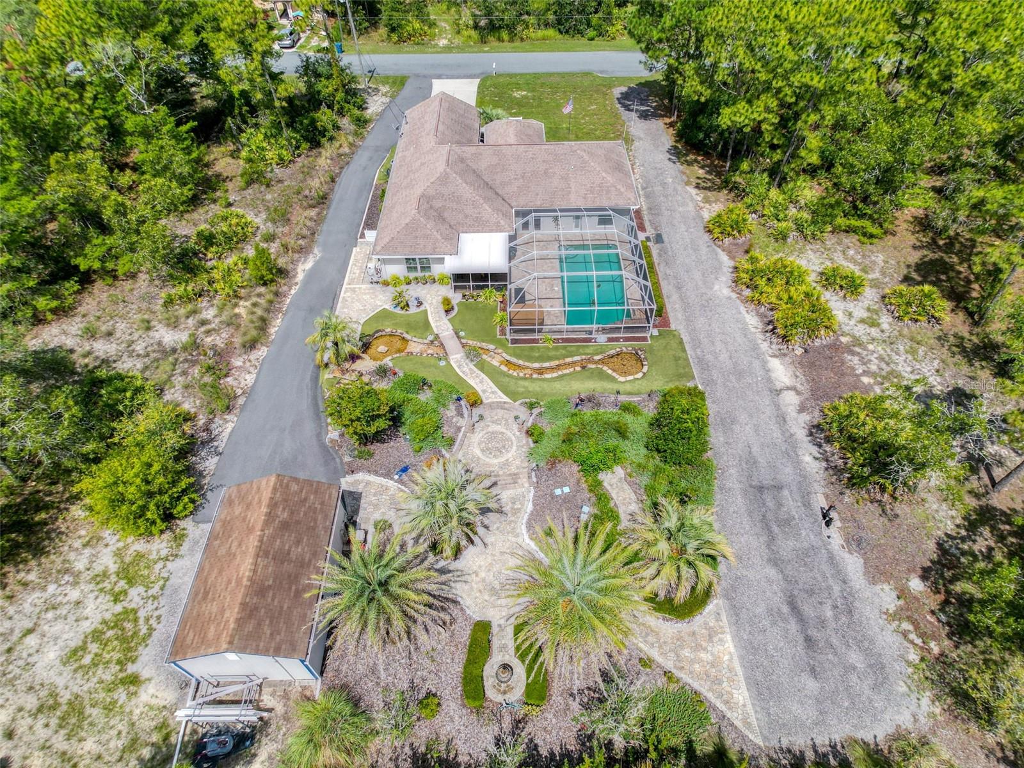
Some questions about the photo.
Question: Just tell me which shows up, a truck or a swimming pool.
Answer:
swimming pool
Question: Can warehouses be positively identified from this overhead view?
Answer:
No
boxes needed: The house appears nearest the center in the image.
[367,95,642,281]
